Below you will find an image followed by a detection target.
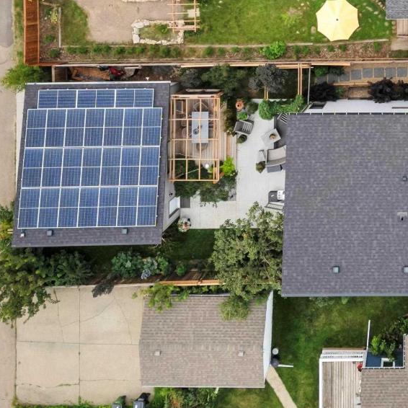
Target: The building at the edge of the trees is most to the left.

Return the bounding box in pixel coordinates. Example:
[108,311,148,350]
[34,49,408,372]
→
[11,81,181,248]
